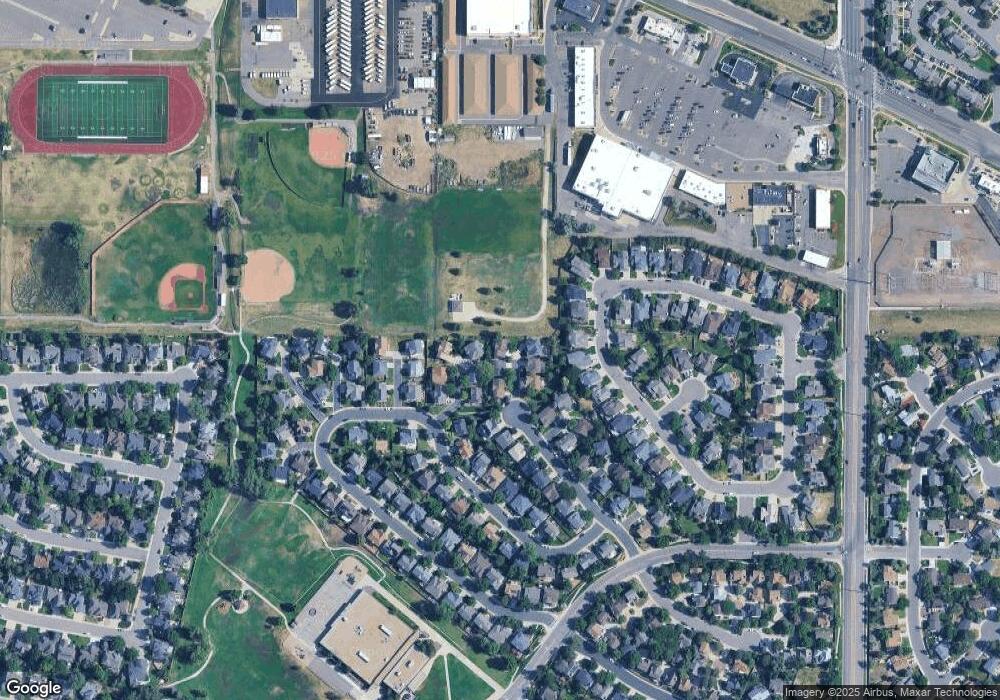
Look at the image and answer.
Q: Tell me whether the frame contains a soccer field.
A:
Yes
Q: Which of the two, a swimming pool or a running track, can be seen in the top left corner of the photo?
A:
running track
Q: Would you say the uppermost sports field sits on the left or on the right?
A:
left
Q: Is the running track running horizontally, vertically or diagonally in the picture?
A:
horizontally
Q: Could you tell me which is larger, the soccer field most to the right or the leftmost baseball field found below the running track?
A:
the baseball field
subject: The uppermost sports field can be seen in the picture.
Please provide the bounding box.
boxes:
[37,75,169,144]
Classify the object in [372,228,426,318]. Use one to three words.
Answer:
soccer field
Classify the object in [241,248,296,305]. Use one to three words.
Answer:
baseball field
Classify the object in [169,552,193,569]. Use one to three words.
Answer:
house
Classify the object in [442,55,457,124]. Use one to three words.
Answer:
building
